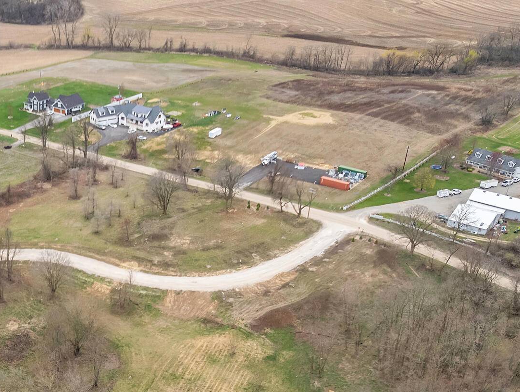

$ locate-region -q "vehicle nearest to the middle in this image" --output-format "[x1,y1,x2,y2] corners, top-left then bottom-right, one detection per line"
[262,149,278,163]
